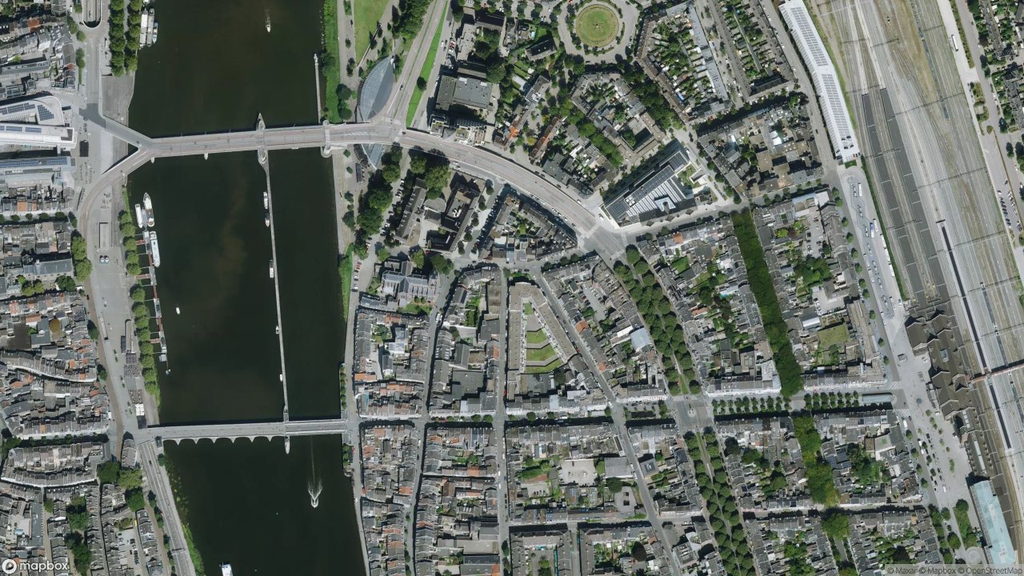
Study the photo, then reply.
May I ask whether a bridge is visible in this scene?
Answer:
Yes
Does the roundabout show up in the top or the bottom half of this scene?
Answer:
top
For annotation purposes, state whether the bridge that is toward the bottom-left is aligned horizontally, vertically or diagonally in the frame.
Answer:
horizontally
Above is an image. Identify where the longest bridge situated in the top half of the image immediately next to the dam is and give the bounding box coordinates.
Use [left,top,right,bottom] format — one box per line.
[86,114,594,232]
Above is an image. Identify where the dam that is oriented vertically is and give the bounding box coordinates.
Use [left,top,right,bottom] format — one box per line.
[264,161,287,411]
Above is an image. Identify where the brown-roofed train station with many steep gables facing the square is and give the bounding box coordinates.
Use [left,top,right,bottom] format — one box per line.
[905,314,991,479]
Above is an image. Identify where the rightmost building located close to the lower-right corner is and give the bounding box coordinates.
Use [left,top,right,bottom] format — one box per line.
[969,480,1017,576]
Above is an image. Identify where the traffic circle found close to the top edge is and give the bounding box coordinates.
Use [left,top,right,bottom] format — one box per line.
[572,2,622,50]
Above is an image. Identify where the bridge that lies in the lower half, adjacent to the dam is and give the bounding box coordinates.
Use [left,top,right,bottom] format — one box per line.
[138,408,350,455]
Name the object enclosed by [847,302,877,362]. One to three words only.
building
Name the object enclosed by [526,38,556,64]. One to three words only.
house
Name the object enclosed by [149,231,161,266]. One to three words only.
boat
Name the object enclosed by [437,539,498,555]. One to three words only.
building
